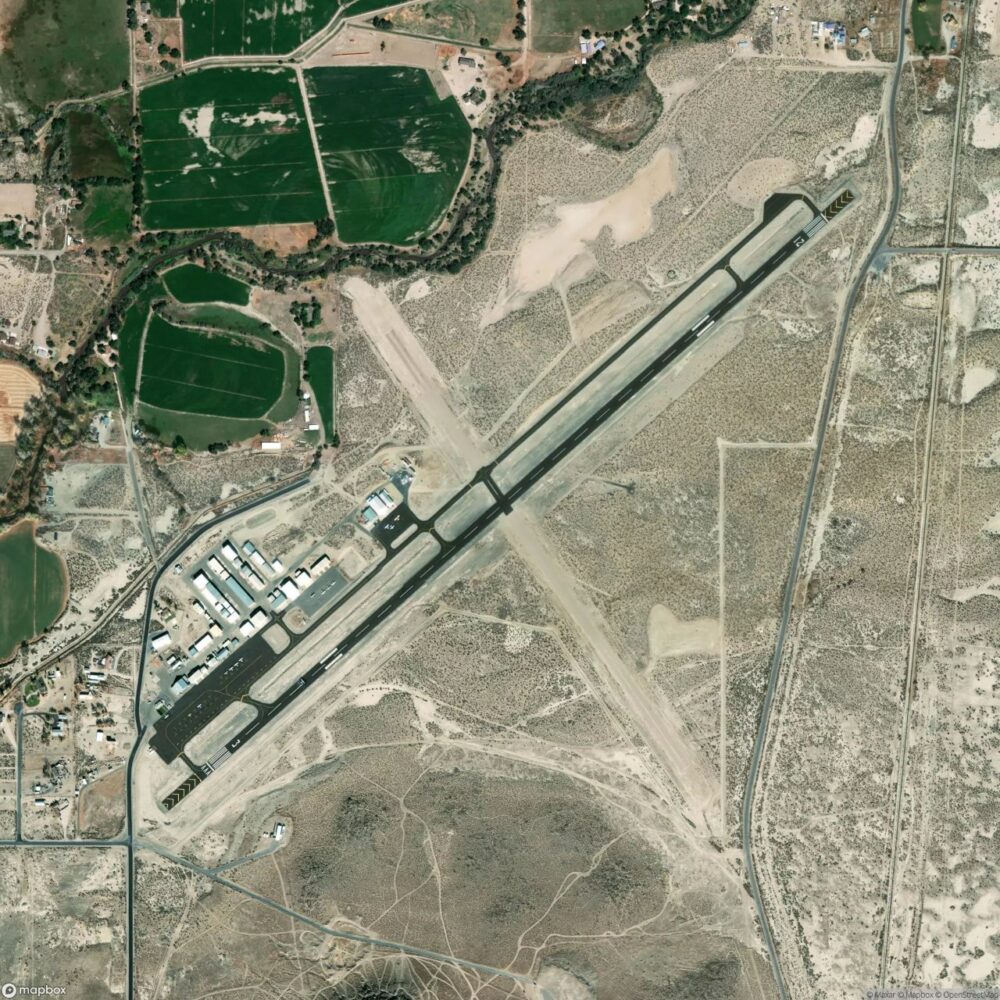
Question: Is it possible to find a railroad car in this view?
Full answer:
No, no railroad car is visible in the scene.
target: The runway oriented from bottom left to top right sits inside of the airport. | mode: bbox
[194,212,830,781]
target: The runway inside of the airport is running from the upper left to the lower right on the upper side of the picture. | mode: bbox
[342,277,483,480]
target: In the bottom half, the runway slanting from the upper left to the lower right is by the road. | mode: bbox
[505,511,724,835]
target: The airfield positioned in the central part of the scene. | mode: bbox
[149,189,855,835]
